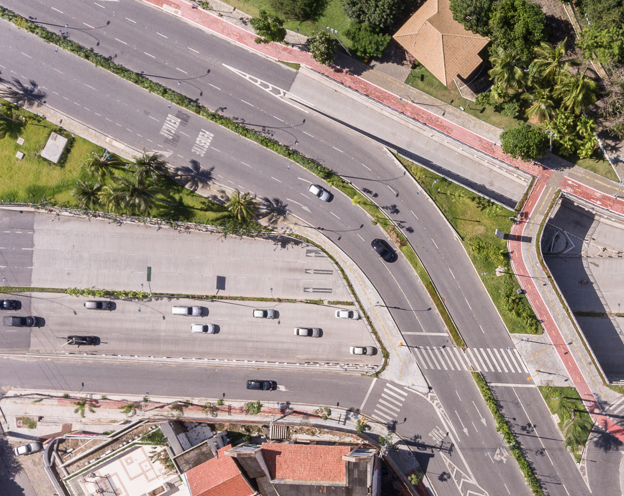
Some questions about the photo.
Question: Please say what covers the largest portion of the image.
paved ground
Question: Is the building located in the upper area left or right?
right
